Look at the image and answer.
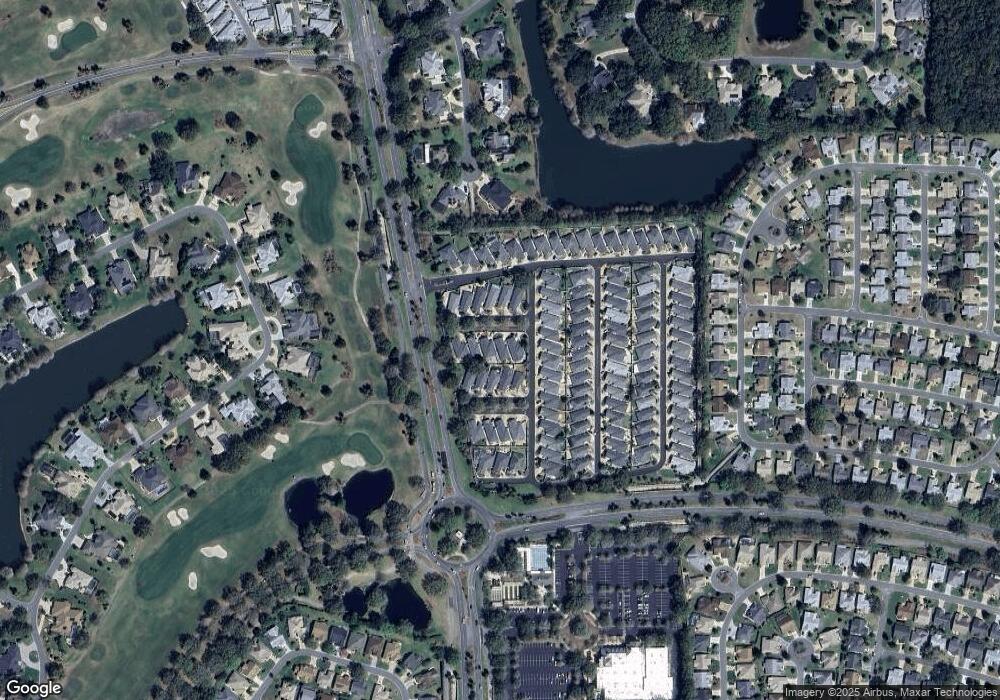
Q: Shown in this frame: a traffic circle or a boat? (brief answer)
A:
traffic circle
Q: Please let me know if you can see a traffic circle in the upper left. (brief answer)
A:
No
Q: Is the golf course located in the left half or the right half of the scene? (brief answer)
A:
left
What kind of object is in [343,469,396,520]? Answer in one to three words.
pond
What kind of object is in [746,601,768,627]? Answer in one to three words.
house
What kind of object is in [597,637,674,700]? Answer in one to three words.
building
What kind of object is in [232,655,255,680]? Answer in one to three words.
house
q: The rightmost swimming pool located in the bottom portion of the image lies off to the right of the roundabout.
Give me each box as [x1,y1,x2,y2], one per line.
[519,544,551,576]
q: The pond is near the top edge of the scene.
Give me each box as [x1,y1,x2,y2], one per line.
[754,0,805,41]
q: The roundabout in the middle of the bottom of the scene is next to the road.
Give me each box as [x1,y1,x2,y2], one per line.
[418,494,497,574]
